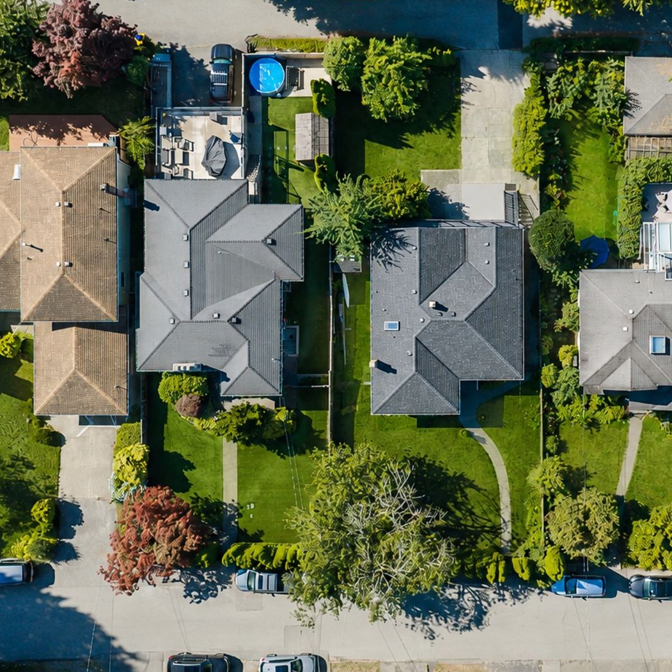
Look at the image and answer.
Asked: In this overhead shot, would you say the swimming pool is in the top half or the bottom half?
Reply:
top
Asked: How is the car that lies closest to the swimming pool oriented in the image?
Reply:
vertically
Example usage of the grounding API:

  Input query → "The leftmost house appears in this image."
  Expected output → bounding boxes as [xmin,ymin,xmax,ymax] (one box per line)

[0,145,145,417]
